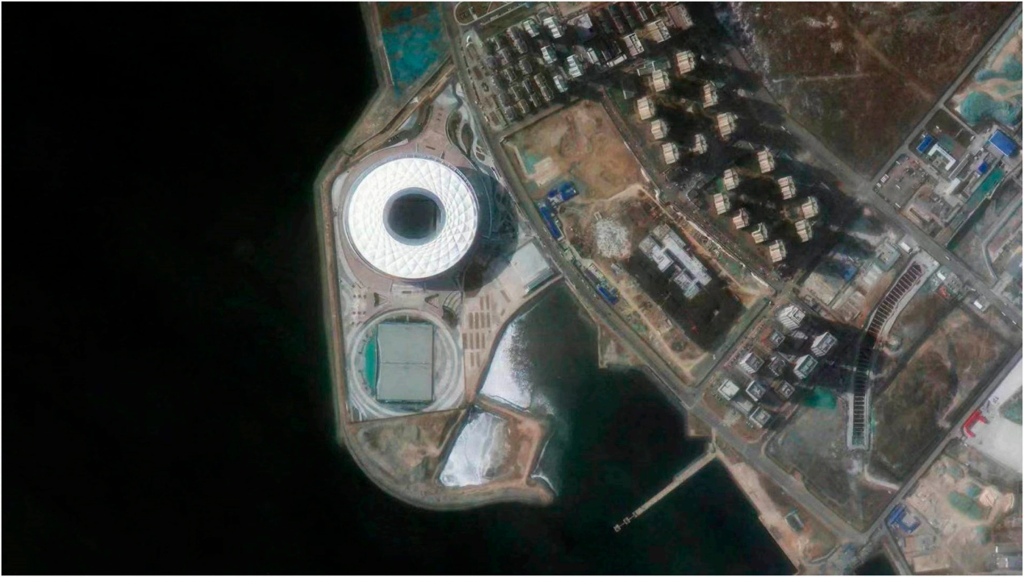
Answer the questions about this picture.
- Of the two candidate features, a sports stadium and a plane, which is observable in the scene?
sports stadium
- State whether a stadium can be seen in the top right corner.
No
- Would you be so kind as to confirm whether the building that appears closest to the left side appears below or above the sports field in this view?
below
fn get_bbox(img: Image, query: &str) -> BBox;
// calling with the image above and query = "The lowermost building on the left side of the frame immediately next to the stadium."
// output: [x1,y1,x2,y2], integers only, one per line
[377,322,434,403]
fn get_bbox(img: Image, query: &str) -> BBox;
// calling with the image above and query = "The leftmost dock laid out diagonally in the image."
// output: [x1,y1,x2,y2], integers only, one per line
[635,443,719,516]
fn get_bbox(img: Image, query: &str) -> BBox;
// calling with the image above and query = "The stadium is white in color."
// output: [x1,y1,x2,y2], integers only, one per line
[343,153,479,284]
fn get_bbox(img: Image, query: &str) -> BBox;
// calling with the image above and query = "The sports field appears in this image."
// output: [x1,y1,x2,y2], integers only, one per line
[387,201,433,238]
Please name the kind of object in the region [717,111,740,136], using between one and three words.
building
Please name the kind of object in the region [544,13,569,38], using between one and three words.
building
